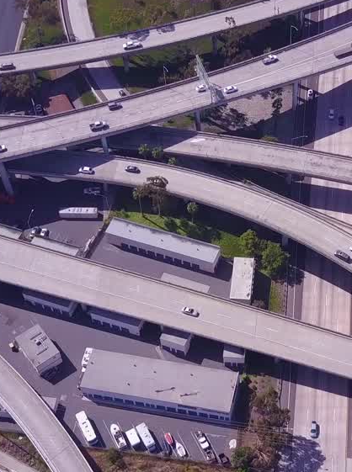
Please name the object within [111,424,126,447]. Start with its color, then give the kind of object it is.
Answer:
white boat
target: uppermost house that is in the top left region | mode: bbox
[45,94,76,117]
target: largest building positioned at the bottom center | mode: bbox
[81,348,239,416]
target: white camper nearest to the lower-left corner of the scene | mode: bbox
[75,409,98,444]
